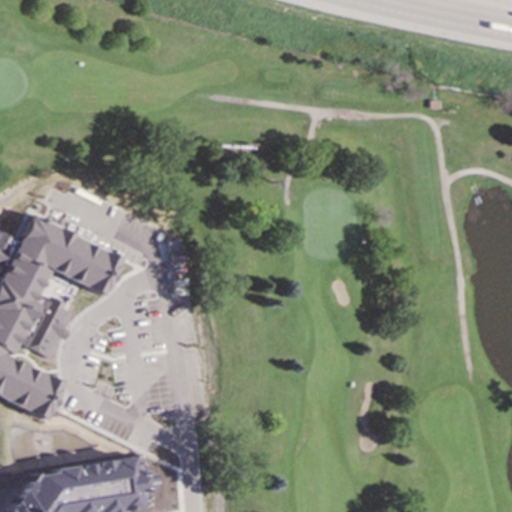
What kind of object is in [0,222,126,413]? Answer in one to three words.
building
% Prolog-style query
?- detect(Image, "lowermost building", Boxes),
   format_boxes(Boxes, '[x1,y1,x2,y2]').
[22,456,159,512]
